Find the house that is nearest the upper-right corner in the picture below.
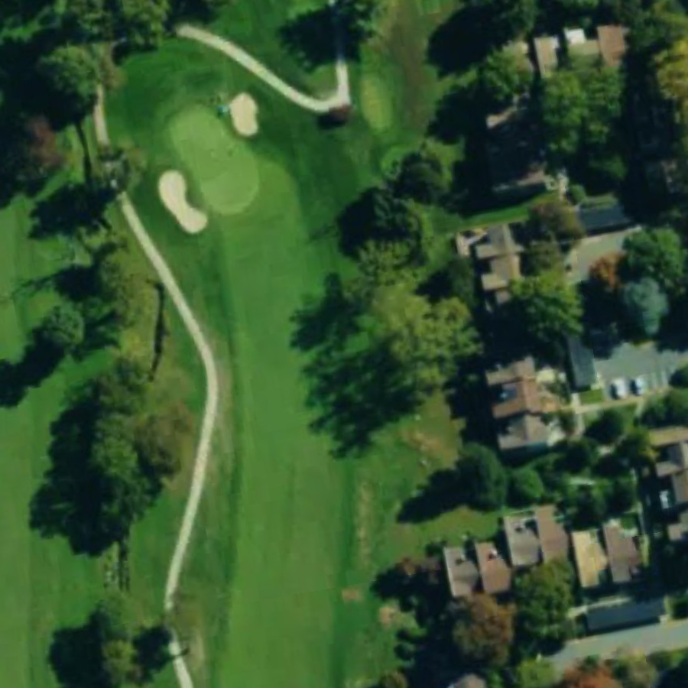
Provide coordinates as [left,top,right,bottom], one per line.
[595,26,629,68]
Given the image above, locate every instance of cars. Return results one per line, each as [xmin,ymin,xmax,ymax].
[616,379,626,397]
[633,375,644,394]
